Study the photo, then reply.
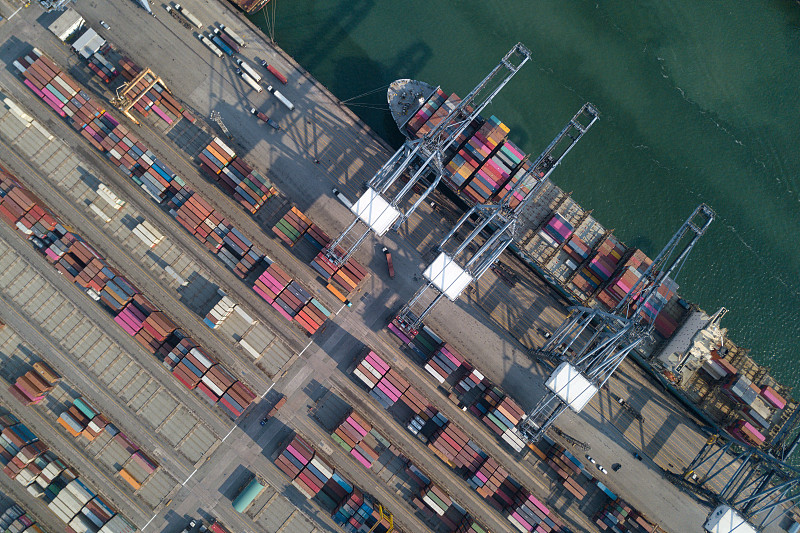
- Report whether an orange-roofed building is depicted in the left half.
No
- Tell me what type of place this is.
port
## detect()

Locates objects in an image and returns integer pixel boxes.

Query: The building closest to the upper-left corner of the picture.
[48,6,87,42]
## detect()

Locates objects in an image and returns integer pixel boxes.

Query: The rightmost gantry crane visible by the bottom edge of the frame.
[652,405,800,533]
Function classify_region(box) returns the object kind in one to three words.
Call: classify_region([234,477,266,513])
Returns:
shed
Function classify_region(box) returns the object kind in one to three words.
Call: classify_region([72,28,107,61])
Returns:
shed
